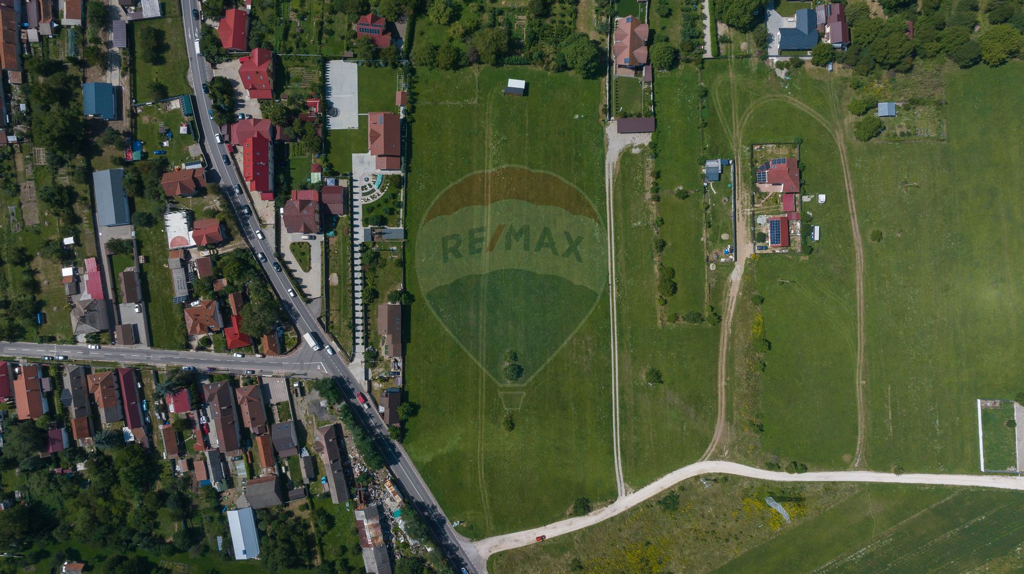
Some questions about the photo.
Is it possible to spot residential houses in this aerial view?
Yes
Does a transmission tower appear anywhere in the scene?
Yes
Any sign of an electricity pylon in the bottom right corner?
Yes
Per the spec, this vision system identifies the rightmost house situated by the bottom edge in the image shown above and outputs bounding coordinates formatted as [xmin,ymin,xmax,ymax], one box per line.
[355,504,392,574]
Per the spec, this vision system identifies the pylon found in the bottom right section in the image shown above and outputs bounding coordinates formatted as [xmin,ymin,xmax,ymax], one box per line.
[764,496,794,522]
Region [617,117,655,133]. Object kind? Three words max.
building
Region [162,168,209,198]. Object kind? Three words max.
house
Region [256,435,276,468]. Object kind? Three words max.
shed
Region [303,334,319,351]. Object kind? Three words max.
vehicle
